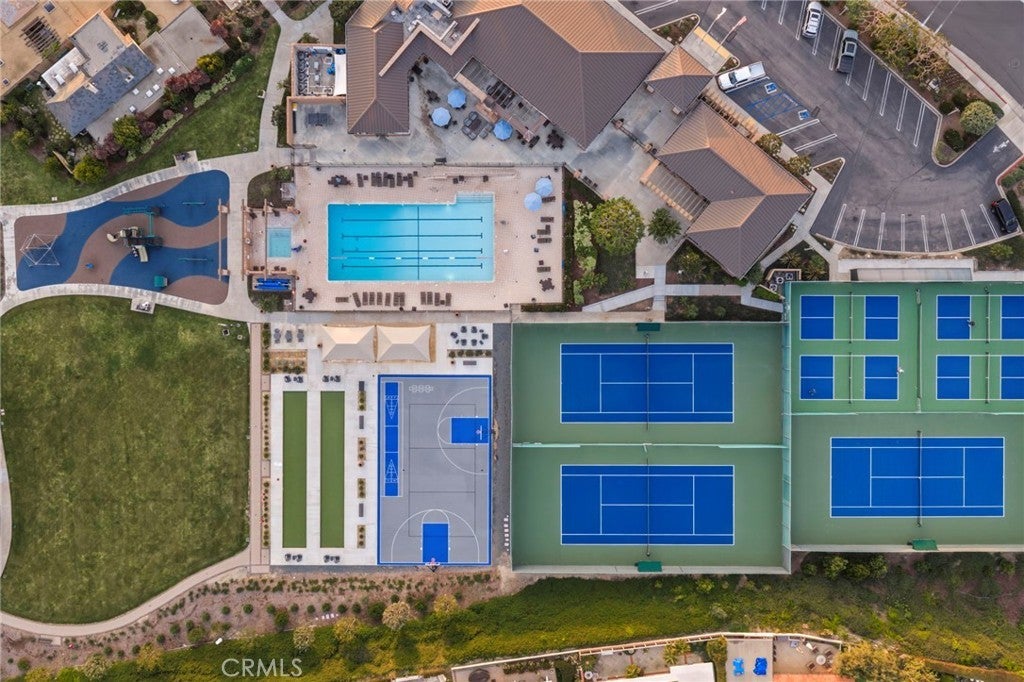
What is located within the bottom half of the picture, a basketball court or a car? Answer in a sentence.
You can see a basketball court within the bottom half of the picture.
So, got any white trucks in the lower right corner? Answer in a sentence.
No, no white truck is visible in the lower right corner.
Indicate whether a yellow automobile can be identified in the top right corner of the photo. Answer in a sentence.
No, I see no yellow automobile in the top right corner of the photo.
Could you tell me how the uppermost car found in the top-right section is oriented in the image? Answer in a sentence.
What the image shows is the uppermost car found in the top-right section lying from top to bottom.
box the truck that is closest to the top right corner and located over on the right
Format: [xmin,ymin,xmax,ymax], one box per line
[835,30,860,75]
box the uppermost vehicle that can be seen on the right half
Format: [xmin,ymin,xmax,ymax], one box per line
[800,3,821,40]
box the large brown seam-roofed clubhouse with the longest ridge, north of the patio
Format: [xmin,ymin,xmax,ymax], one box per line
[344,0,666,150]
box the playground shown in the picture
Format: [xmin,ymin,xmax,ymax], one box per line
[15,170,230,304]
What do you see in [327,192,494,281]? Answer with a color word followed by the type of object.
blue swimming pool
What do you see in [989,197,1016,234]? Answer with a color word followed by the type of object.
black car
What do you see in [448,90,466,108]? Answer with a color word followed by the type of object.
blue umbrella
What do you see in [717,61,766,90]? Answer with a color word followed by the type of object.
white truck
